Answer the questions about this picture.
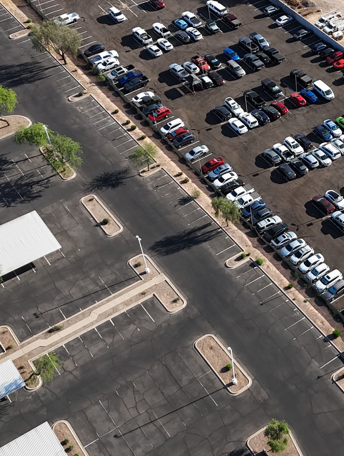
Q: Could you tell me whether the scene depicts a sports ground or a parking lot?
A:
parking lot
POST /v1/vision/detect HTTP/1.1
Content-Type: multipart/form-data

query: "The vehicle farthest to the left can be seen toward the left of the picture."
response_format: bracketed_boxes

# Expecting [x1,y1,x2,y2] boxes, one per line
[54,11,79,25]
